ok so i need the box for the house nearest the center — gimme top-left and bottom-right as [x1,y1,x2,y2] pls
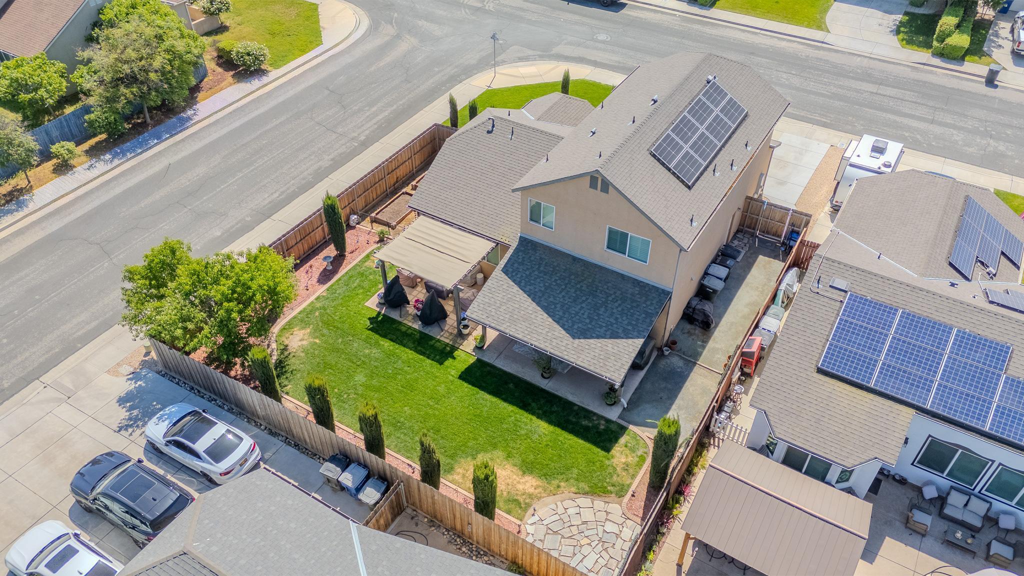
[403,48,791,423]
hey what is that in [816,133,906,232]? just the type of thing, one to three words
vehicle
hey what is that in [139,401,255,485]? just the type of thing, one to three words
car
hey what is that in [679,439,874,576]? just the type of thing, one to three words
gazebo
